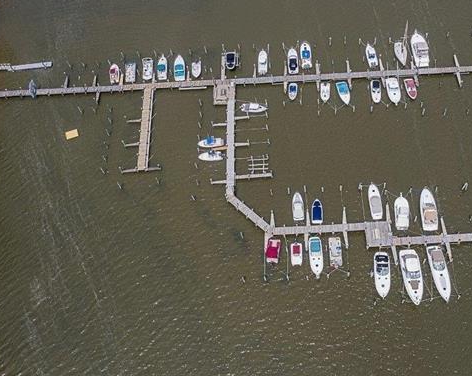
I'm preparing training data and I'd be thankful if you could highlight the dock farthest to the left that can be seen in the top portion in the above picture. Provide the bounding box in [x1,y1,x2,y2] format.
[0,61,53,75]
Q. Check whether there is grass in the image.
No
